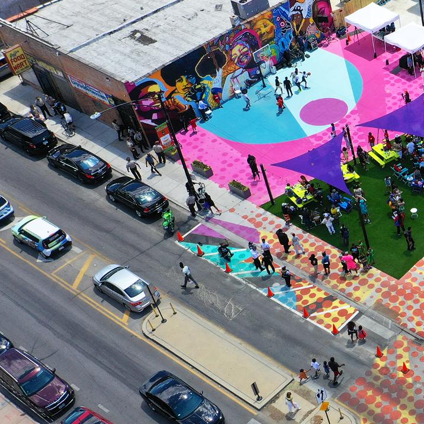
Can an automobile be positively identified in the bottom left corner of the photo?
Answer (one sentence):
Yes, the scene does show an automobile in the bottom left corner of the photo.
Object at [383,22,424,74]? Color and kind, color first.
white tent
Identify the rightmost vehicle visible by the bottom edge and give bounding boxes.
[138,375,228,424]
